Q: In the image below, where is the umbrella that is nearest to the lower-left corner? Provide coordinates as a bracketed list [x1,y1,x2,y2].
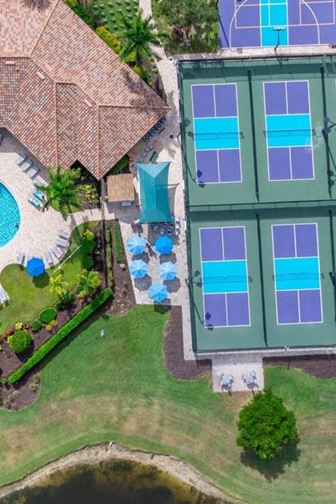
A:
[25,258,44,276]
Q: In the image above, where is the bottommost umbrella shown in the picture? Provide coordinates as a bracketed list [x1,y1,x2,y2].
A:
[148,282,167,301]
